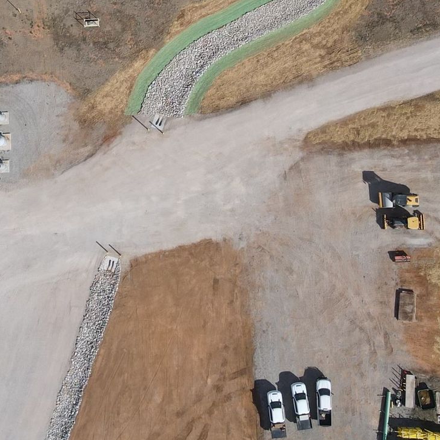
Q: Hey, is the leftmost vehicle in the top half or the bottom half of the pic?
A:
bottom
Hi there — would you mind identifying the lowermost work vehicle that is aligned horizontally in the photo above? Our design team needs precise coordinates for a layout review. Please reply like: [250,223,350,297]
[385,215,427,232]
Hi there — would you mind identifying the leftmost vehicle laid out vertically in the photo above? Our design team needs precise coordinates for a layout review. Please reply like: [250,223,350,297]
[267,389,288,440]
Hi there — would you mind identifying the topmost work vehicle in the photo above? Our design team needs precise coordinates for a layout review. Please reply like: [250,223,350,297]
[379,192,424,209]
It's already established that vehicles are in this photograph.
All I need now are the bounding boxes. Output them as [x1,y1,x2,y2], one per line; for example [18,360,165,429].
[290,381,314,433]
[267,389,288,440]
[385,215,427,232]
[316,375,335,429]
[379,192,424,209]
